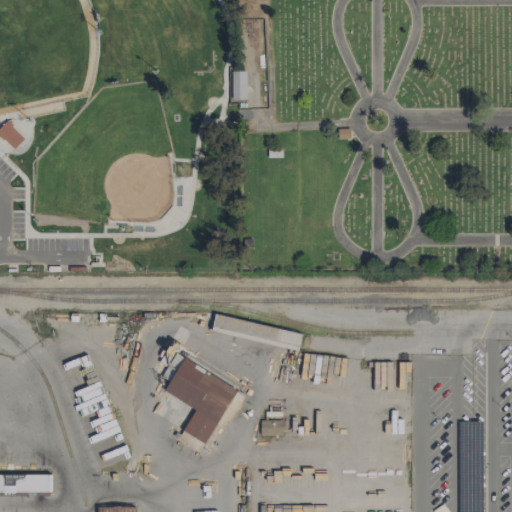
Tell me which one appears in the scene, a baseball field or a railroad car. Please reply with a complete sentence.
I can see a baseball field in this picture.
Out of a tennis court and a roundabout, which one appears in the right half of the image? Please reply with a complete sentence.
It is a roundabout that can be seen in the right half of the image.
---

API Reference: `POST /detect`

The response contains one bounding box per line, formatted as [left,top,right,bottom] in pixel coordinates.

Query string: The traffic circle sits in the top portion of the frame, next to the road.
[353,96,403,144]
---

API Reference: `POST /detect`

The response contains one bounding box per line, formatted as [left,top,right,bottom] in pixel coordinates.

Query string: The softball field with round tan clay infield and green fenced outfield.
[36,80,174,224]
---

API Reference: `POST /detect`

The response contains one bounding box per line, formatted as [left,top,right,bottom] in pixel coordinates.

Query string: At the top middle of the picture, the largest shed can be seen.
[233,71,248,100]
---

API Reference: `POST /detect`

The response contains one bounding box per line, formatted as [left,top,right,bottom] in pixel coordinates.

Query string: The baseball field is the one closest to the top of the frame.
[0,0,100,114]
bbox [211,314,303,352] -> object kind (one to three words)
shed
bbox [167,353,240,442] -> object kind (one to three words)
building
